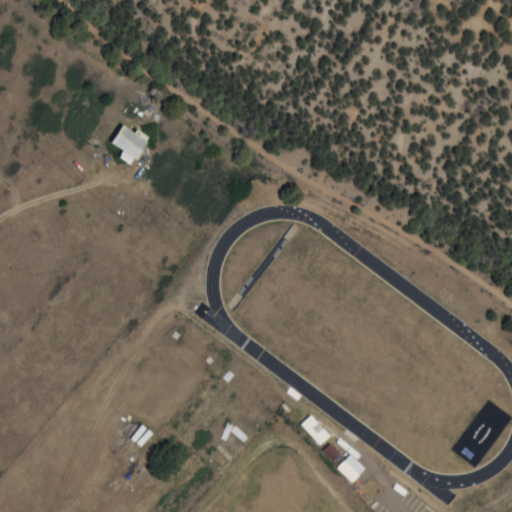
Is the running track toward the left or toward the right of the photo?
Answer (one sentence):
The running track is on the right side of the image.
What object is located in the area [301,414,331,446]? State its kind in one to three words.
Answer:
building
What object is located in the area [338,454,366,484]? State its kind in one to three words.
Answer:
building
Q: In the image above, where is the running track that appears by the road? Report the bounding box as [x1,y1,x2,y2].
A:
[196,206,512,504]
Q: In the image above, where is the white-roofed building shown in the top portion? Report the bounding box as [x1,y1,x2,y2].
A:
[111,124,150,164]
